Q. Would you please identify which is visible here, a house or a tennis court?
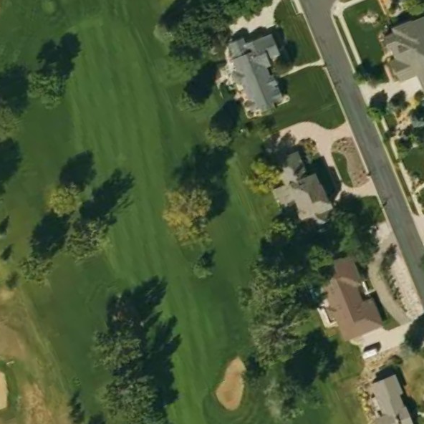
house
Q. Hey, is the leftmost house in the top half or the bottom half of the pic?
top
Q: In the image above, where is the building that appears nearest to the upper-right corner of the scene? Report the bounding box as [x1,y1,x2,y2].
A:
[380,18,424,86]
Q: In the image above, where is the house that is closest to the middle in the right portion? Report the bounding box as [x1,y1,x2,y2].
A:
[268,150,337,223]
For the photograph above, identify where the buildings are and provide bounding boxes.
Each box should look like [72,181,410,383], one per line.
[224,30,290,114]
[371,377,422,424]
[268,150,337,223]
[322,261,386,335]
[380,18,424,86]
